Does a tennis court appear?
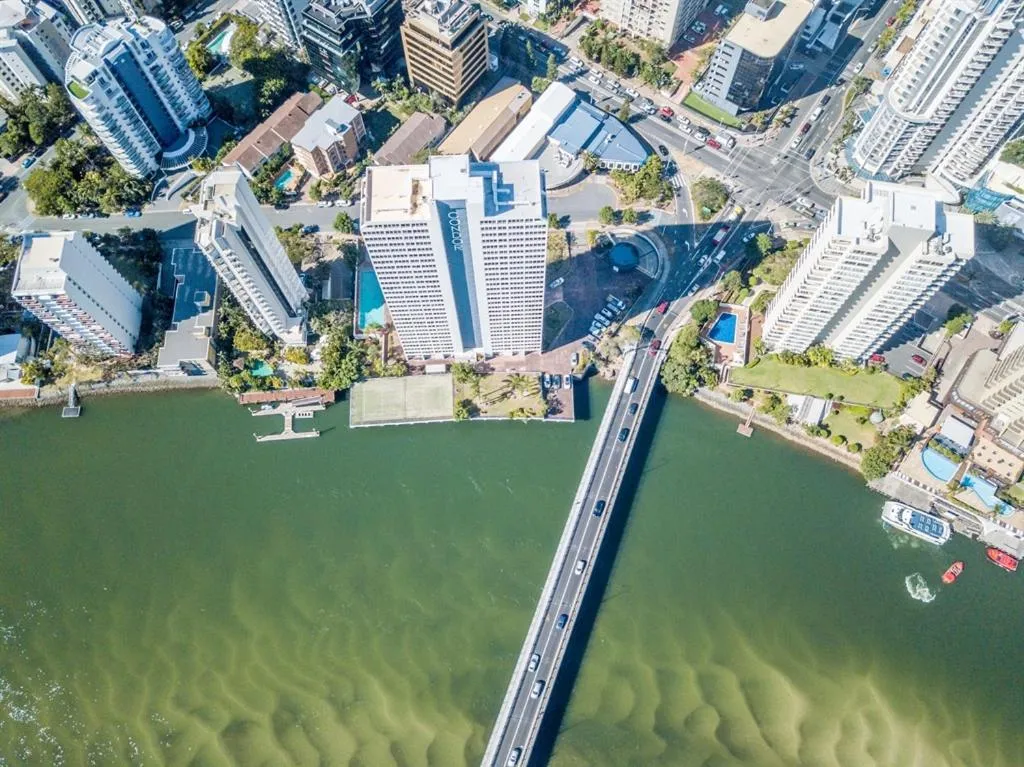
Yes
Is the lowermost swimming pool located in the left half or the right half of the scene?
right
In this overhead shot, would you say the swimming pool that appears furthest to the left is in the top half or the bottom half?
top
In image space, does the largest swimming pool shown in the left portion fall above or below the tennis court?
above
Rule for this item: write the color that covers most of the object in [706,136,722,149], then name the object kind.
red vehicle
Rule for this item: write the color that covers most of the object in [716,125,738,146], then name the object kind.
white truck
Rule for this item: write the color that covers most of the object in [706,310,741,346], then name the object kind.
blue swimming pool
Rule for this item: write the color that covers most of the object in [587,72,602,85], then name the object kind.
white vehicle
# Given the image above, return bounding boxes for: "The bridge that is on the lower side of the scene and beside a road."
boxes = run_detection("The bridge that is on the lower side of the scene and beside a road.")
[480,291,701,767]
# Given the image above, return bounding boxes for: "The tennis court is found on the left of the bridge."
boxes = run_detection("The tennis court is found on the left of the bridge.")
[348,372,453,425]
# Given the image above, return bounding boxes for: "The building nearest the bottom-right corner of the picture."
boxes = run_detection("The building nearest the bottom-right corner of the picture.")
[969,438,1023,483]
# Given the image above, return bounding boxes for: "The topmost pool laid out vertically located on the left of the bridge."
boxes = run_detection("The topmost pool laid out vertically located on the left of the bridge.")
[355,260,392,331]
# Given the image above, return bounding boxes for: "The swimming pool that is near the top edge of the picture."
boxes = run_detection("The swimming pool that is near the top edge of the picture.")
[203,23,235,56]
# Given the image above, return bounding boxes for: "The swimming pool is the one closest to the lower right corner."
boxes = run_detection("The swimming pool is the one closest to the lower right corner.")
[959,473,1016,519]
